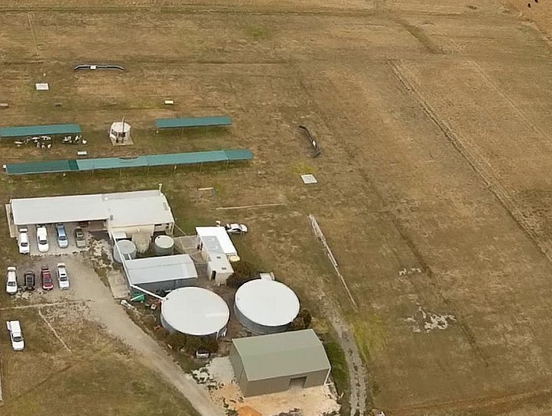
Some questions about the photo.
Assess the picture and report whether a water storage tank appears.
Yes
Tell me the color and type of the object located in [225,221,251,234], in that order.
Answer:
white vehicle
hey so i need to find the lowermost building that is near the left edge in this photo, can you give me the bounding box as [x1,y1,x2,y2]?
[8,183,178,238]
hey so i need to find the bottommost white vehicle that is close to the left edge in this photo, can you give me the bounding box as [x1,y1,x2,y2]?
[5,318,25,350]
